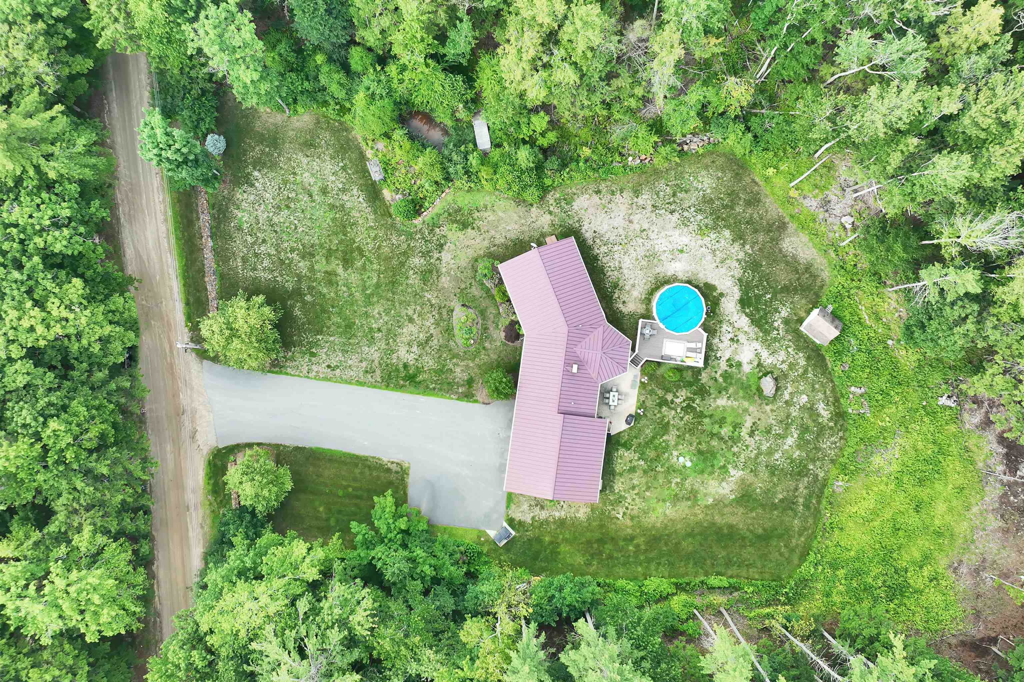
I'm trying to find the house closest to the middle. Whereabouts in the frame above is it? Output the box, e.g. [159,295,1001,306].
[497,236,633,503]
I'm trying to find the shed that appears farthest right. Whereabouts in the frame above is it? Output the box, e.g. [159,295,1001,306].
[797,305,843,346]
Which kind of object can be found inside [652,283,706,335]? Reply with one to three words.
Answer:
swimming pool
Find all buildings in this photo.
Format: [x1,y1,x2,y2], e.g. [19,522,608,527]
[797,305,843,346]
[497,236,633,503]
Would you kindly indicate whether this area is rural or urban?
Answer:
rural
